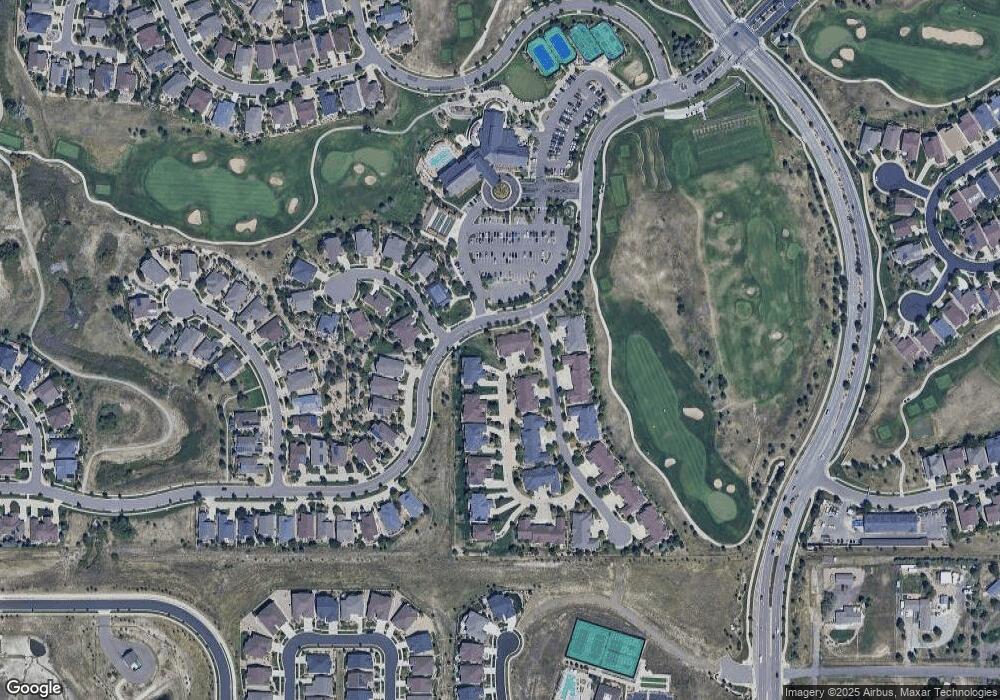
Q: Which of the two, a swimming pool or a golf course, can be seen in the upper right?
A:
golf course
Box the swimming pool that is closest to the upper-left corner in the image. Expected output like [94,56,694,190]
[423,144,458,172]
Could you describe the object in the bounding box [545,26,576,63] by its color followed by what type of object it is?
blue tennis court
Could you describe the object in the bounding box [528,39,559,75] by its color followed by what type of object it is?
blue tennis court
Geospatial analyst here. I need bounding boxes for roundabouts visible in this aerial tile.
[481,171,521,212]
